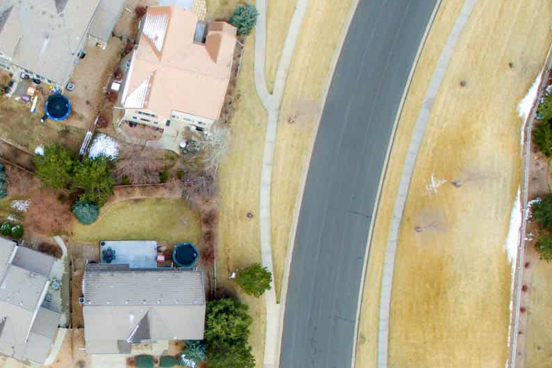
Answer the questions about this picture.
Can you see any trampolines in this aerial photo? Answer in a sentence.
Yes, I can see a trampoline in this picture.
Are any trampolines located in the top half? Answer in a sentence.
Yes, the scene does show a trampoline in the top half.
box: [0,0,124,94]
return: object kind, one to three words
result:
house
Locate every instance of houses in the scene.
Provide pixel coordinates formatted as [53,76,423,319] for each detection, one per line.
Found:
[0,236,63,366]
[124,2,238,127]
[83,263,206,356]
[0,0,124,94]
